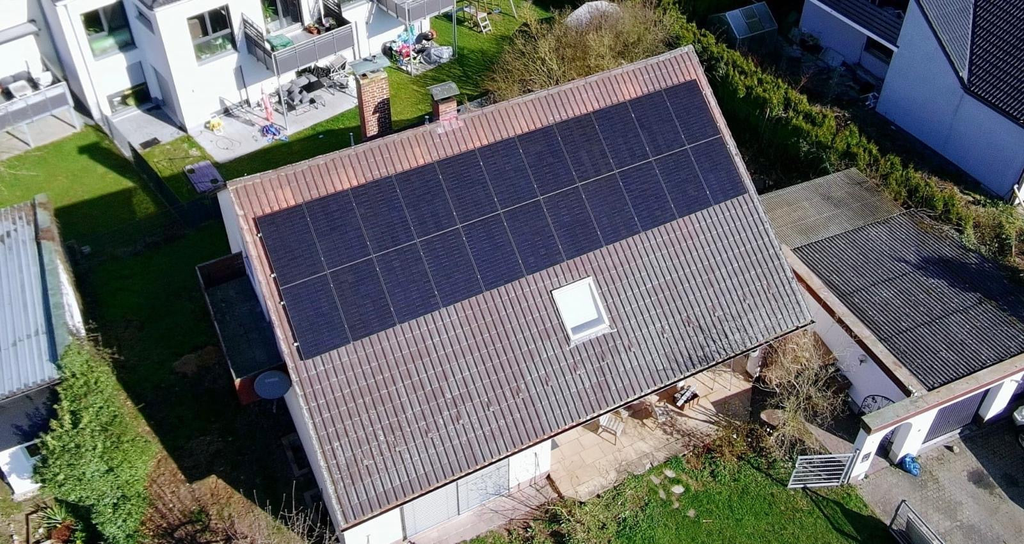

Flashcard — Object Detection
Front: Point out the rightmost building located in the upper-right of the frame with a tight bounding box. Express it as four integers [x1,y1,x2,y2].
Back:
[877,0,1024,199]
